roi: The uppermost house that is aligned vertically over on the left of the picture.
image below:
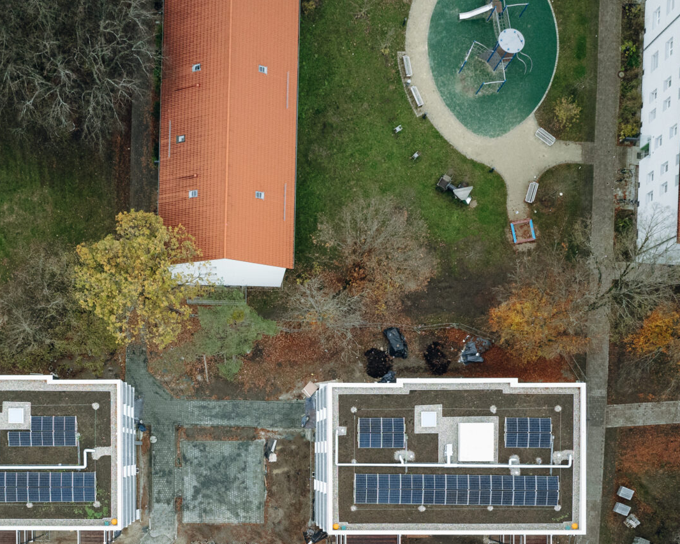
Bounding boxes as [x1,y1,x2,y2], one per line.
[154,0,299,286]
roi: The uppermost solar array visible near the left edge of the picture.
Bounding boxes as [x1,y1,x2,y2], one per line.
[8,416,78,446]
